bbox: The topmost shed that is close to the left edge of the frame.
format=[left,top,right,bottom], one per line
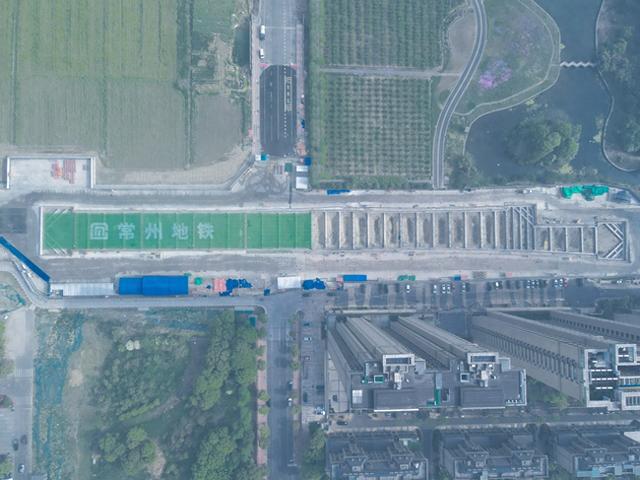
[0,233,54,282]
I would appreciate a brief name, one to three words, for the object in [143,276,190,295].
shed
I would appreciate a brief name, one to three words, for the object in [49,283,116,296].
shed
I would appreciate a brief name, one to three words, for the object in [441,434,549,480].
building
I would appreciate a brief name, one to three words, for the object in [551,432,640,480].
building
